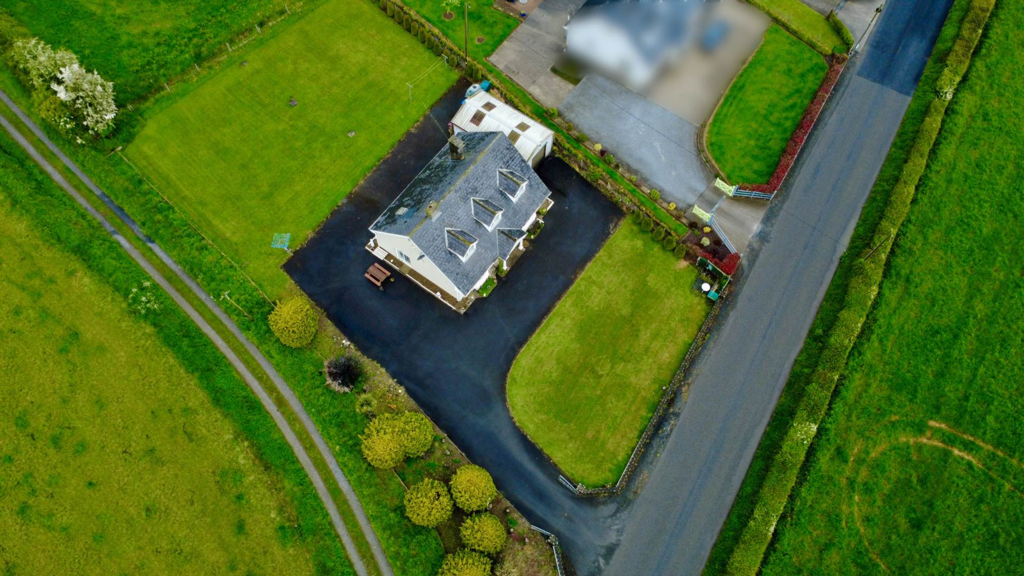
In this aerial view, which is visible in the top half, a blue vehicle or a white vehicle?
blue vehicle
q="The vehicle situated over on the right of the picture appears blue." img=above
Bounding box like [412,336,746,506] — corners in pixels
[699,20,731,53]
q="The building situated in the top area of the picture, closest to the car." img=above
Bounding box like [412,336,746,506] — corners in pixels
[565,0,710,91]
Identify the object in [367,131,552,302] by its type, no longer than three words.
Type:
house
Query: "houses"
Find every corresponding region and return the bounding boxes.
[367,131,552,302]
[565,0,710,91]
